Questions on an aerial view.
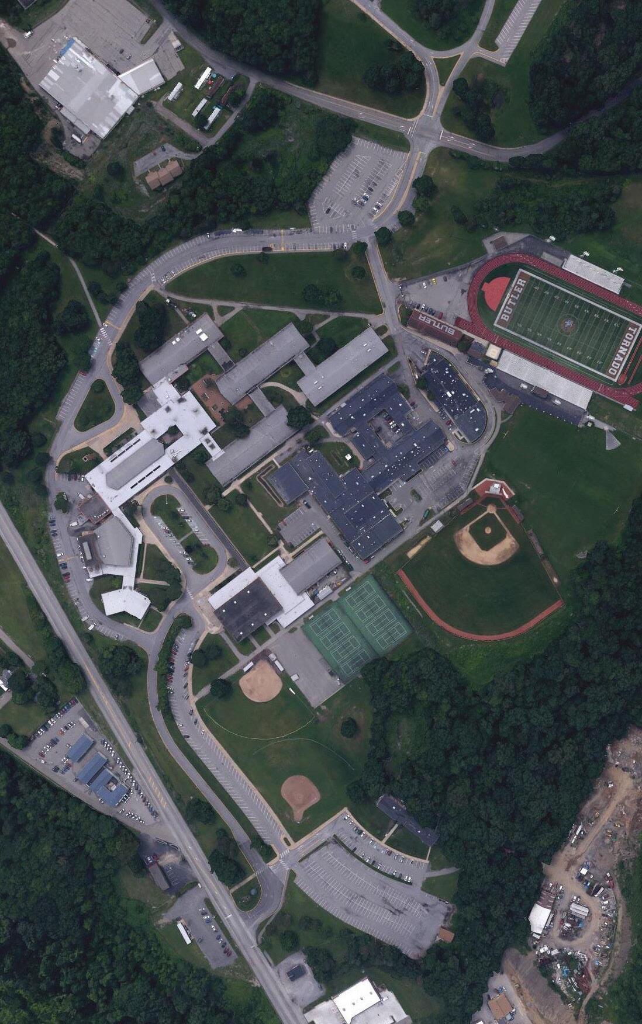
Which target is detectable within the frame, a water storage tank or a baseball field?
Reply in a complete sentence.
The one in the frame is a baseball field.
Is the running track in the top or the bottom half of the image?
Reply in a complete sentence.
The running track is in the top half of the image.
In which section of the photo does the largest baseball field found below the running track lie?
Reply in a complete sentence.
The largest baseball field found below the running track is in the right part of the image.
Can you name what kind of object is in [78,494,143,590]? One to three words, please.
building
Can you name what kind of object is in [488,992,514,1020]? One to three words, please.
house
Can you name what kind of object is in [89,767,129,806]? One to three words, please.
building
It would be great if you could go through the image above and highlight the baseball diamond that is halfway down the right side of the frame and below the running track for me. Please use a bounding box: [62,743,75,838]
[397,479,564,641]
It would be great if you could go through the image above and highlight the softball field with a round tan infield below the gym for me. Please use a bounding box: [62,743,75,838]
[239,659,283,702]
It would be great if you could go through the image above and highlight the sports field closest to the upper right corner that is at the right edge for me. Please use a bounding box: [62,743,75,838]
[480,264,642,386]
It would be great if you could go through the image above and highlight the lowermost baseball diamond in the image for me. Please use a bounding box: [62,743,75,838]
[281,775,321,823]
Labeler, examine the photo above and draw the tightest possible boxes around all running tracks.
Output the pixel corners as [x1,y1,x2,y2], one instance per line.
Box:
[454,253,642,409]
